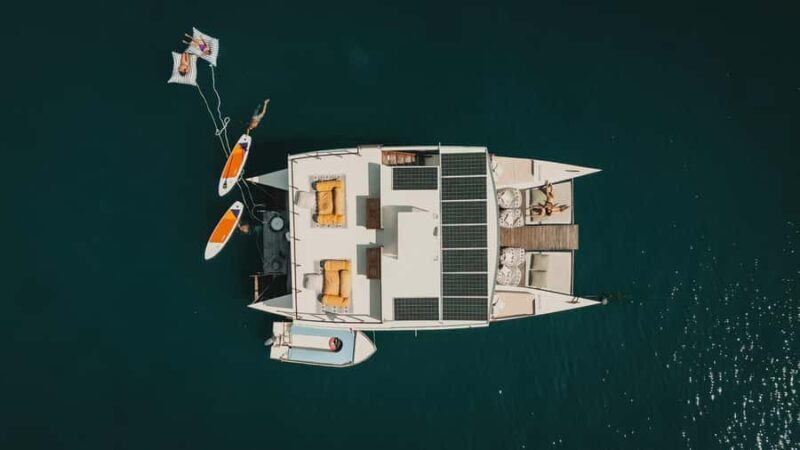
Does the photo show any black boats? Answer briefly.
No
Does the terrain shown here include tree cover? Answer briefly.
No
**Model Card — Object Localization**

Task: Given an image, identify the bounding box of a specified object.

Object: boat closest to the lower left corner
[266,320,377,367]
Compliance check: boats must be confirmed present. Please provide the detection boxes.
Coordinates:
[247,143,609,330]
[266,320,377,367]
